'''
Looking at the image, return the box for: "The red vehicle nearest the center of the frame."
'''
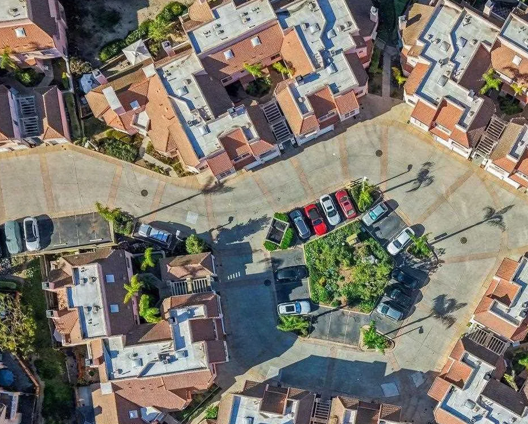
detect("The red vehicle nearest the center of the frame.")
[304,204,329,237]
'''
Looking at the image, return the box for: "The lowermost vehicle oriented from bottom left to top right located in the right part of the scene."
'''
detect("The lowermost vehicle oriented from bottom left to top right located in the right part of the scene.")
[386,224,415,257]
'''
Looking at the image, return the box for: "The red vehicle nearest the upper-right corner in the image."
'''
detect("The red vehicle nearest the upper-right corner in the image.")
[334,187,359,222]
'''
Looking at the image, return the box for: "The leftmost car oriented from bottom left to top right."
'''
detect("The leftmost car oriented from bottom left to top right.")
[359,200,392,228]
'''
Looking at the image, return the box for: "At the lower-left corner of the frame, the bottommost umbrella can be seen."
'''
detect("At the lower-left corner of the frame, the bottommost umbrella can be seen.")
[0,365,18,387]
